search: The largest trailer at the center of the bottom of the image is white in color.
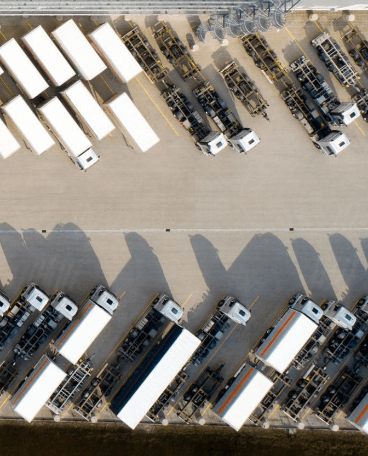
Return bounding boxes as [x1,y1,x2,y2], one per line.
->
[110,323,200,430]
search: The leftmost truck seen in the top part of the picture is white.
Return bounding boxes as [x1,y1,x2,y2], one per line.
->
[72,146,102,173]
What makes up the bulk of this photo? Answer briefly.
paved ground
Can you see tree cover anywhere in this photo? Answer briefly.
No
